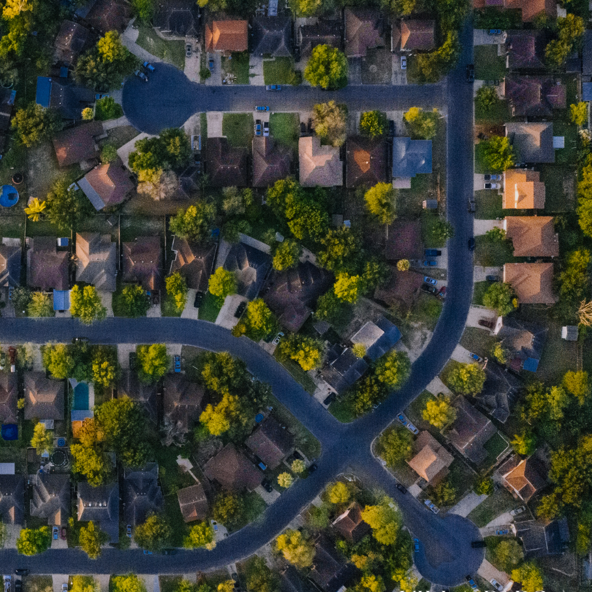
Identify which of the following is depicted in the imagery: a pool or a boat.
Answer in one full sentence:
I can see a pool in this picture.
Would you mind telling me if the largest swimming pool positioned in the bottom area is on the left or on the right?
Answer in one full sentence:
The largest swimming pool positioned in the bottom area is on the left side of the image.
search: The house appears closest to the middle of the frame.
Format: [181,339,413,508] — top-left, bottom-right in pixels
[263,269,330,321]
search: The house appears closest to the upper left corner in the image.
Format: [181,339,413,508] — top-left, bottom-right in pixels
[51,18,90,63]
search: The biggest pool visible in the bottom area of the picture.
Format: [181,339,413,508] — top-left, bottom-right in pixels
[69,379,94,411]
